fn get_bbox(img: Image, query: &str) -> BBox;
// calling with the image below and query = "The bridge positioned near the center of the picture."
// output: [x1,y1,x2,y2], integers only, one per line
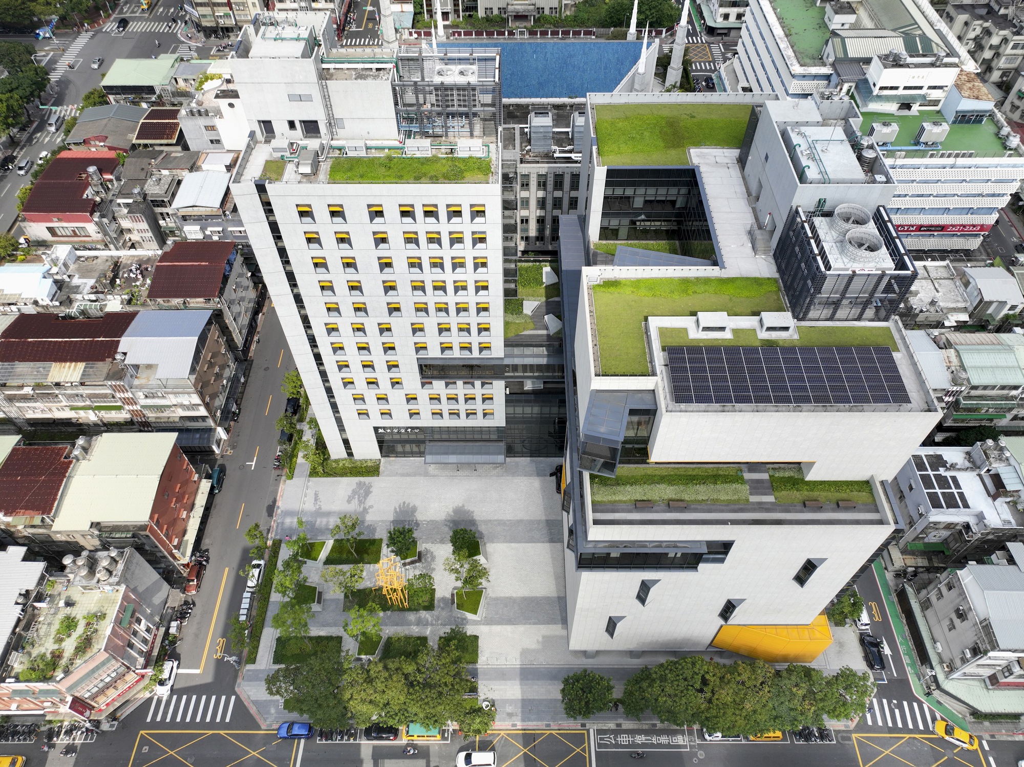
[506,345,559,373]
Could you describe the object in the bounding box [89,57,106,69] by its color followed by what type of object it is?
gray vehicle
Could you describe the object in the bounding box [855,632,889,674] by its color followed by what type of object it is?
black car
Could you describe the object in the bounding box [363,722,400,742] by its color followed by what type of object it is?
black car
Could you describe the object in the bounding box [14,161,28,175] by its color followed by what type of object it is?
gray car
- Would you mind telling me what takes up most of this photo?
buildings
